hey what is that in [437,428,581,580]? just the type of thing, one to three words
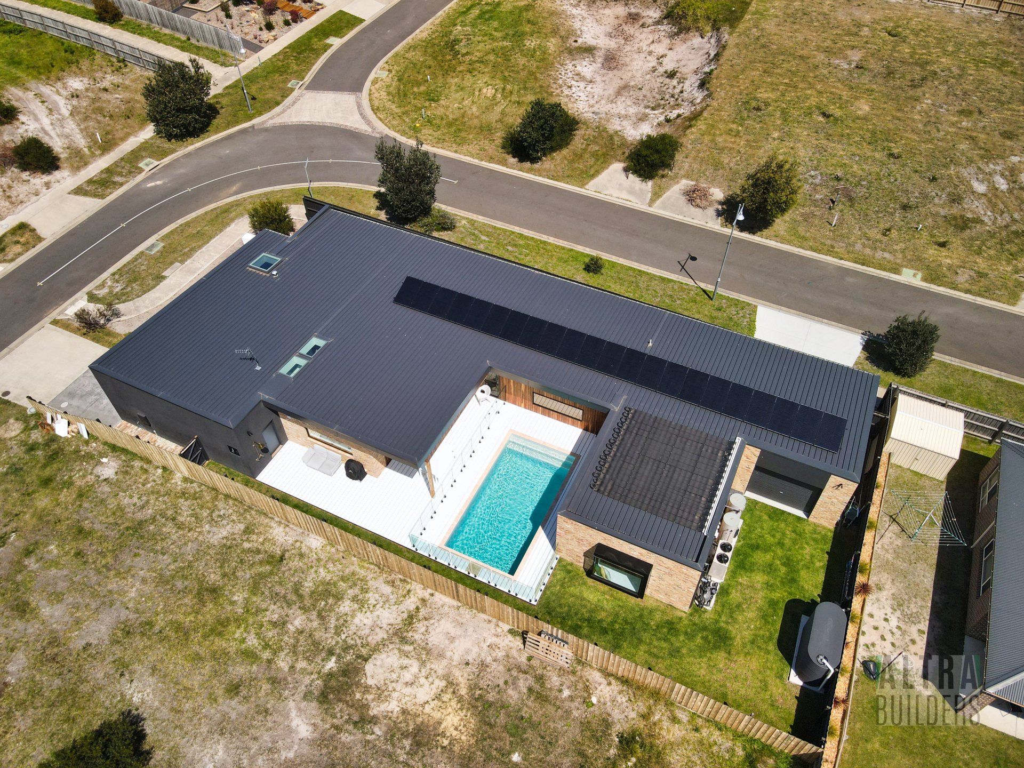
swimming pool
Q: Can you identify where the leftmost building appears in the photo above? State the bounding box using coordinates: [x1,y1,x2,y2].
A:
[89,205,881,612]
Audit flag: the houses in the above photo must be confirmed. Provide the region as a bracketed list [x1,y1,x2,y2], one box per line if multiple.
[955,433,1024,719]
[89,205,881,612]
